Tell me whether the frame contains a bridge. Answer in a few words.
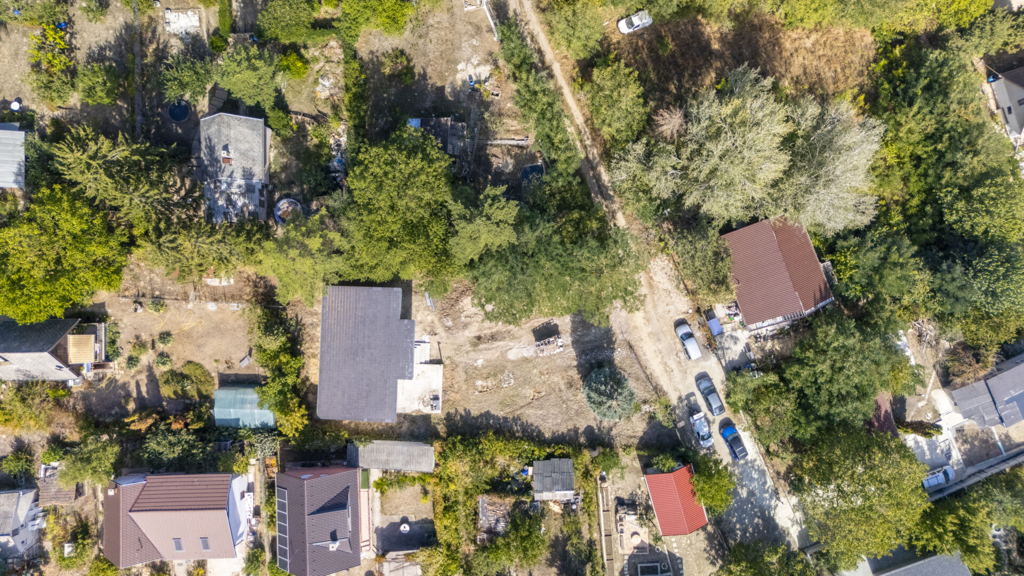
No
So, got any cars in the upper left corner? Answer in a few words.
No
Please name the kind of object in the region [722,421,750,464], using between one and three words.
car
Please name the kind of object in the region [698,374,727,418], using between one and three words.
car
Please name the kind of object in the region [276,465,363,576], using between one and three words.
house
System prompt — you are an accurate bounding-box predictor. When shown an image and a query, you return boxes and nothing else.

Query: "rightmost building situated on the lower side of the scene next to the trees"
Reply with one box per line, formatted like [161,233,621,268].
[938,358,1024,430]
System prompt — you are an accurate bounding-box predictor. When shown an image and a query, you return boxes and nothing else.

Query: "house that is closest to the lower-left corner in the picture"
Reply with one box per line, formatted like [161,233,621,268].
[0,487,47,558]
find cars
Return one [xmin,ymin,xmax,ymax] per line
[616,8,656,36]
[722,421,750,464]
[676,322,703,363]
[686,410,715,452]
[698,374,727,418]
[916,465,956,491]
